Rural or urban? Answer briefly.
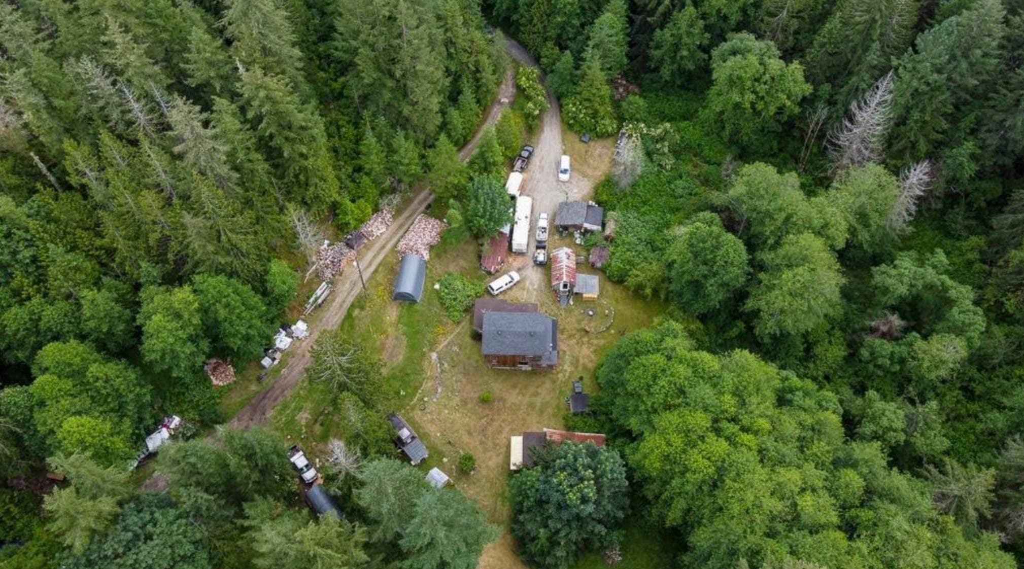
rural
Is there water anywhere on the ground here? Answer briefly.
No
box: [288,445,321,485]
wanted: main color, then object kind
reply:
white truck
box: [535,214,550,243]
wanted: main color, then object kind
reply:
white vehicle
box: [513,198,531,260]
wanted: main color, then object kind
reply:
white trailer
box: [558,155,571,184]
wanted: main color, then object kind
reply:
white vehicle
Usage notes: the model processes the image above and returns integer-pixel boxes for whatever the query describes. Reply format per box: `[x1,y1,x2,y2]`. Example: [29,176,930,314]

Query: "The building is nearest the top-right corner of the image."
[556,202,603,234]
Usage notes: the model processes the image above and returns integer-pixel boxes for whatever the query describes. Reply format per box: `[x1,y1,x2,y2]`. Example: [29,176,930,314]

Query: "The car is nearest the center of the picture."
[487,272,522,298]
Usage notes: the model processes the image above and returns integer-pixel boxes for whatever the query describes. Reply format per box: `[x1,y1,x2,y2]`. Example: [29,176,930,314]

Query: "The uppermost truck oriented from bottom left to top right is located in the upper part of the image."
[514,146,535,173]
